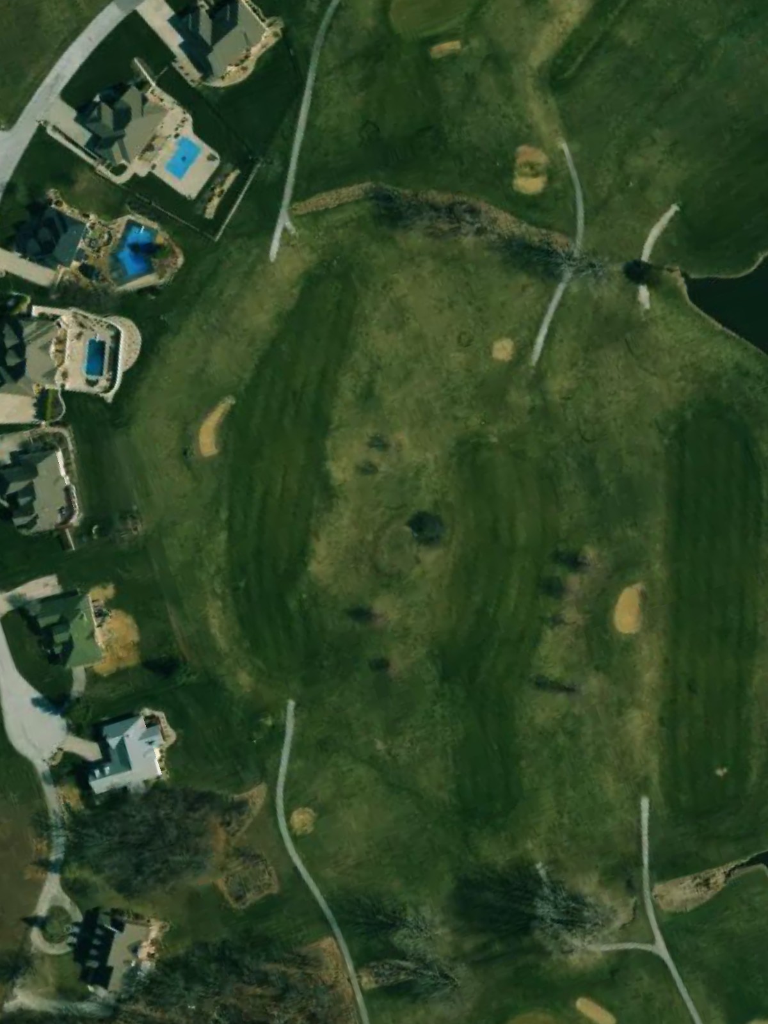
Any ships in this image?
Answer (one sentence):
No, this view has no ship in it.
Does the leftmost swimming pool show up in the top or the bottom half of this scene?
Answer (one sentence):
The leftmost swimming pool sits in the top half of the picture.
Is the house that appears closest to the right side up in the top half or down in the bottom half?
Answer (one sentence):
The house that appears closest to the right side sits in the top half of the picture.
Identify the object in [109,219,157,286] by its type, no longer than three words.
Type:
swimming pool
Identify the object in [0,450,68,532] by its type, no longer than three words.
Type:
house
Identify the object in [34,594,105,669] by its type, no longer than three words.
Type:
house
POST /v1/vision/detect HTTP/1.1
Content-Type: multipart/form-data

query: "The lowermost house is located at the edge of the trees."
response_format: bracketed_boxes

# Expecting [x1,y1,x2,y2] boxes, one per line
[66,909,152,990]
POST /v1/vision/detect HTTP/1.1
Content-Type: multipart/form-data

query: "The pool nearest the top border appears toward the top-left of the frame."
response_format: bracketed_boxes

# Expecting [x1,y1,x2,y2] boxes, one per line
[124,113,220,200]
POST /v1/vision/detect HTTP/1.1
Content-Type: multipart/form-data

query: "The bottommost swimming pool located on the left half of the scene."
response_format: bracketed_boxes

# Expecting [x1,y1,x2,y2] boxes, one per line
[59,311,119,394]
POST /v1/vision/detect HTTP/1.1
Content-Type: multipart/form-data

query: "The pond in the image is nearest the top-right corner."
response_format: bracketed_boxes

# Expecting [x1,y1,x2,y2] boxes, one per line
[684,257,768,353]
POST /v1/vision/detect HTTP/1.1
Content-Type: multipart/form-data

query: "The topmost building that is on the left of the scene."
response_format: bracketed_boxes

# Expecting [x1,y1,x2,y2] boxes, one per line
[169,0,268,78]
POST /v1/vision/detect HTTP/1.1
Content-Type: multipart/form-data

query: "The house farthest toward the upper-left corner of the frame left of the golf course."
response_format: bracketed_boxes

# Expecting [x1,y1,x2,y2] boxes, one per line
[76,86,168,166]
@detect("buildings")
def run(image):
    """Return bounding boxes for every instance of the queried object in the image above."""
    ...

[76,86,168,166]
[16,207,87,270]
[169,0,268,78]
[34,594,105,669]
[66,909,152,990]
[89,715,165,794]
[0,319,67,396]
[0,450,68,532]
